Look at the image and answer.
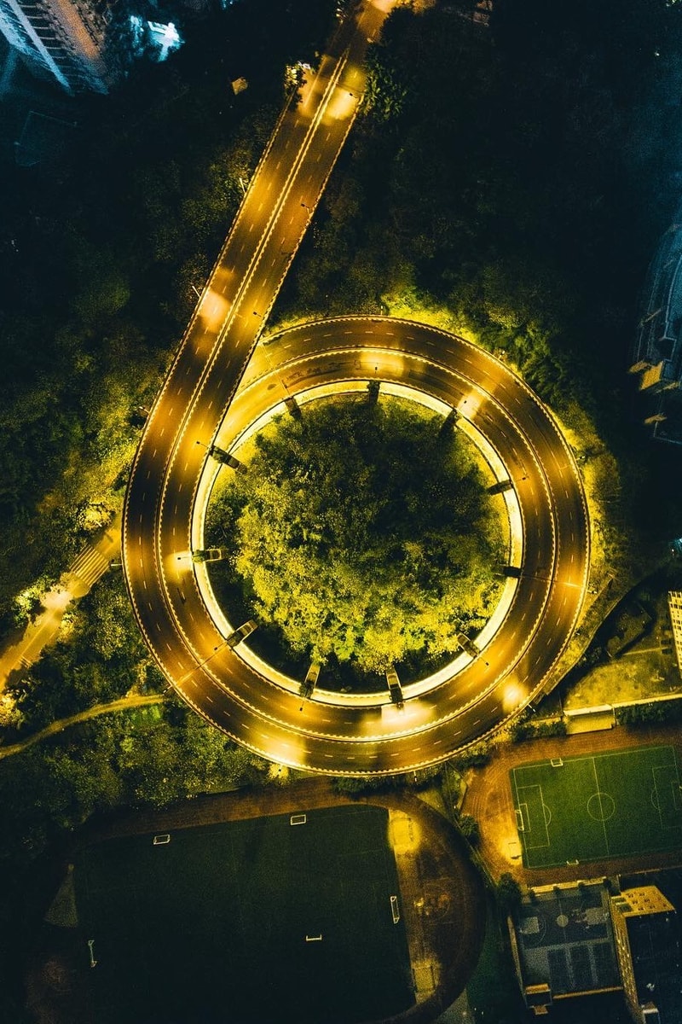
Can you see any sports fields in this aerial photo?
Yes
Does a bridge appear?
Yes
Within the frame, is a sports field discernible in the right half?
Yes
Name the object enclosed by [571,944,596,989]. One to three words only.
sports court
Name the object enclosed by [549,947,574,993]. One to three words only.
sports court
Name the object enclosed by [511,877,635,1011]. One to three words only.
building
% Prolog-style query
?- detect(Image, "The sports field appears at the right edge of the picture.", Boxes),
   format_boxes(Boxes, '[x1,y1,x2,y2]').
[510,744,682,869]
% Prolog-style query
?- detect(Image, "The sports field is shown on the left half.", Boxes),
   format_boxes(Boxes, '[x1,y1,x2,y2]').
[73,806,416,1024]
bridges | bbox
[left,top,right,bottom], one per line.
[115,74,589,777]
